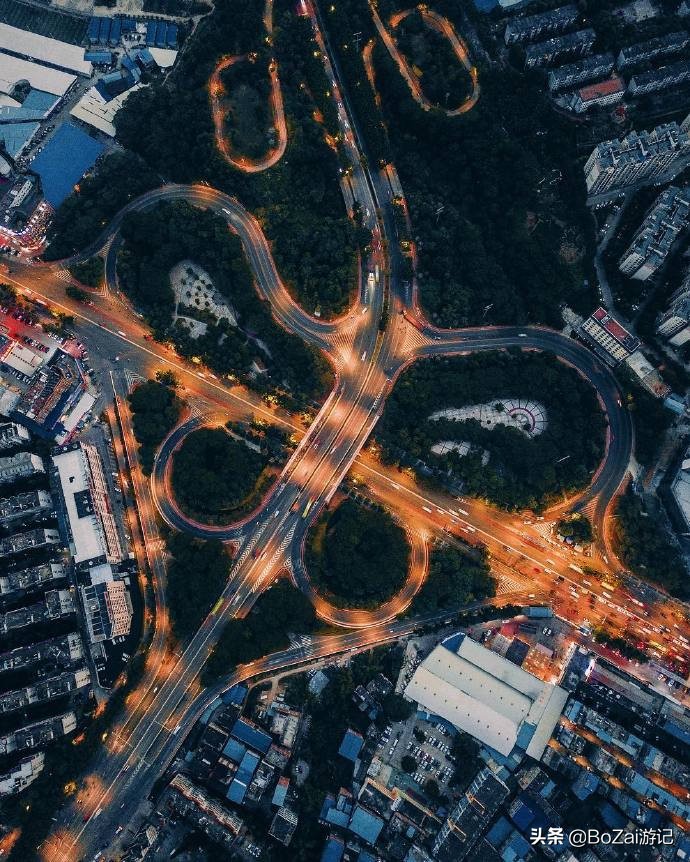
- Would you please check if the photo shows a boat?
No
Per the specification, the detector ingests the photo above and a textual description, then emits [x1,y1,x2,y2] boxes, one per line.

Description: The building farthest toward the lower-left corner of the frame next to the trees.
[0,749,50,799]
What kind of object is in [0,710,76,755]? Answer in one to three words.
building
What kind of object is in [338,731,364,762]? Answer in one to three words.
house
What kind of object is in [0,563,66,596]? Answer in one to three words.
building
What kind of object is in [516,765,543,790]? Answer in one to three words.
house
